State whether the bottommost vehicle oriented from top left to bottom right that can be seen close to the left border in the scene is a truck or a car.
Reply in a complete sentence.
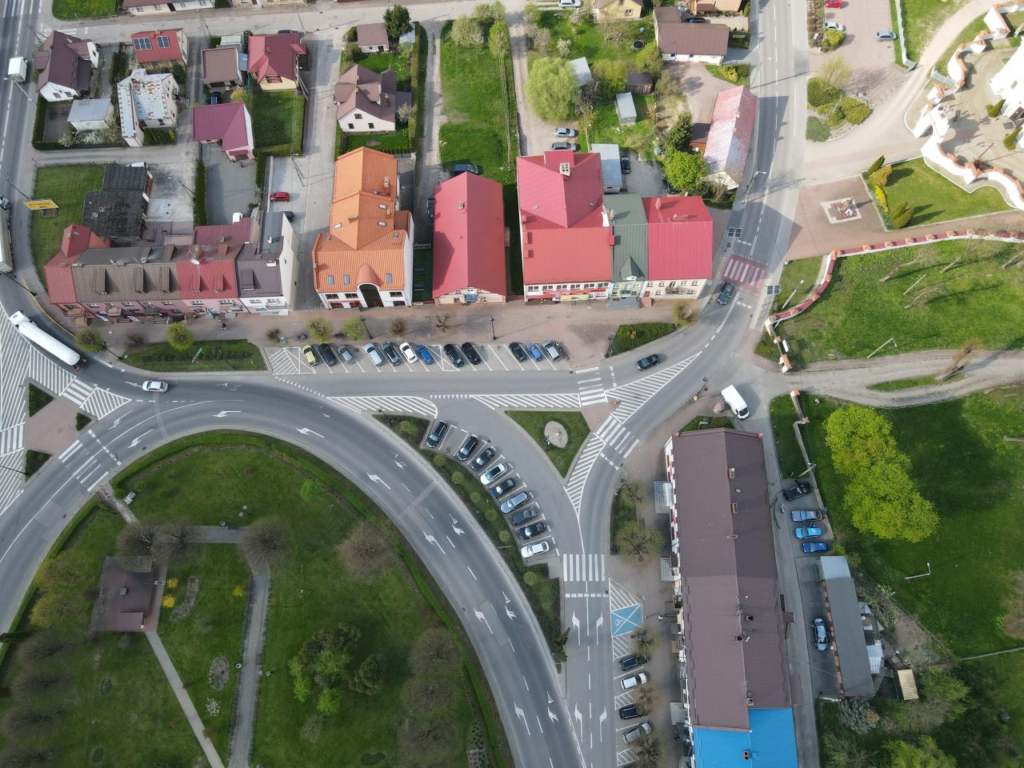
From above, the bottommost vehicle oriented from top left to bottom right that can be seen close to the left border can be identified as a truck.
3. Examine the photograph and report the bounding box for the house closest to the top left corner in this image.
[34,30,97,101]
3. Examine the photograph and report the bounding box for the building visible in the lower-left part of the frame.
[91,556,152,632]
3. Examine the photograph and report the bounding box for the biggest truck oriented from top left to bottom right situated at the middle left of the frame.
[9,314,90,376]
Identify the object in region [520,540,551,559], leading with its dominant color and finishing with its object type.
white car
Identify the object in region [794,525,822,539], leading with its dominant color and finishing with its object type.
blue car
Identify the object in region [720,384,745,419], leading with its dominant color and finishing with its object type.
white vehicle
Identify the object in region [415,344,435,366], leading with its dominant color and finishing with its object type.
blue car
